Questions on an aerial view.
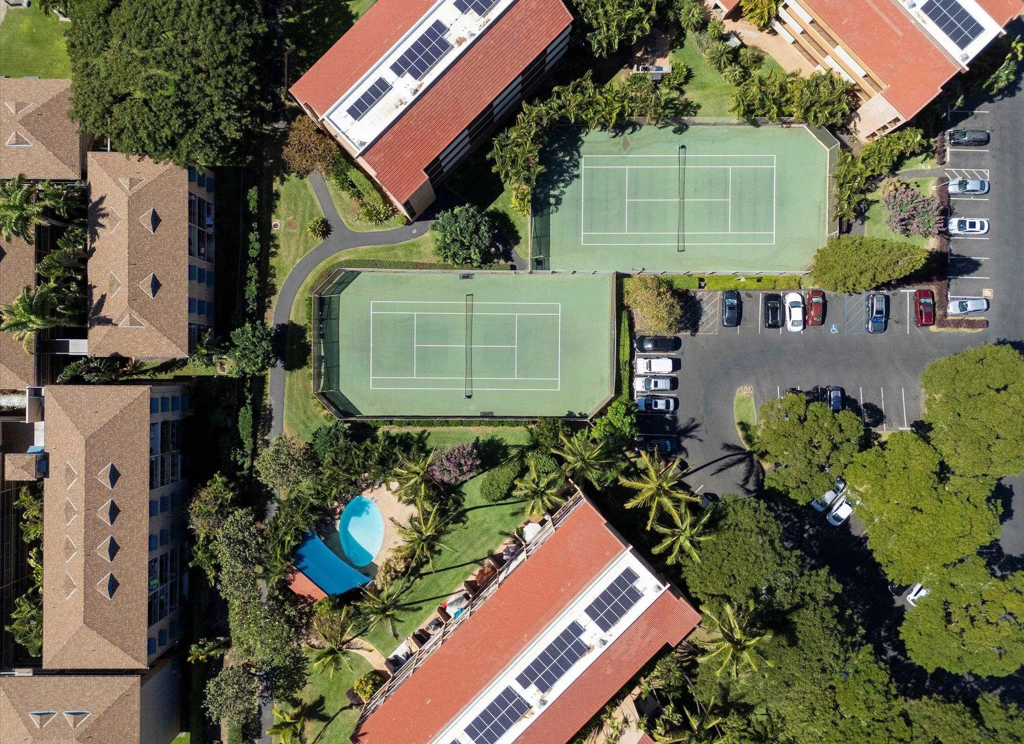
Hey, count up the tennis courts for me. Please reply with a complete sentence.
In total, there are 2 tennis courts in the scene.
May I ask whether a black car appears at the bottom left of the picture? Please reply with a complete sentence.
No, there is no black car at the bottom left of the picture.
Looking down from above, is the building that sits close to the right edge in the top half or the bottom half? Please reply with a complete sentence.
Seen from above, the building that sits close to the right edge lies in the top half of the view.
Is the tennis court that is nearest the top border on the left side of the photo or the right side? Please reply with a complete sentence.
The tennis court that is nearest the top border appears in the right half of the scene.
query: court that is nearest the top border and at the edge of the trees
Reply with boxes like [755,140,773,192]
[533,125,827,270]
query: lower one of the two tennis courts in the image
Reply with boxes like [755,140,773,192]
[322,273,609,416]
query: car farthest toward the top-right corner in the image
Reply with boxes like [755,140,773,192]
[945,128,989,148]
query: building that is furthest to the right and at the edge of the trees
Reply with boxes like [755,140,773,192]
[761,0,1024,144]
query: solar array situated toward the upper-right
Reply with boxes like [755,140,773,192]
[921,0,983,50]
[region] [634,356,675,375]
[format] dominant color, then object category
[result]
white car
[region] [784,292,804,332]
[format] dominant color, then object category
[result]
white car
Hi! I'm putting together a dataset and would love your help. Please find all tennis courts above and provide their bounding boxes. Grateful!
[533,125,827,270]
[322,273,609,416]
